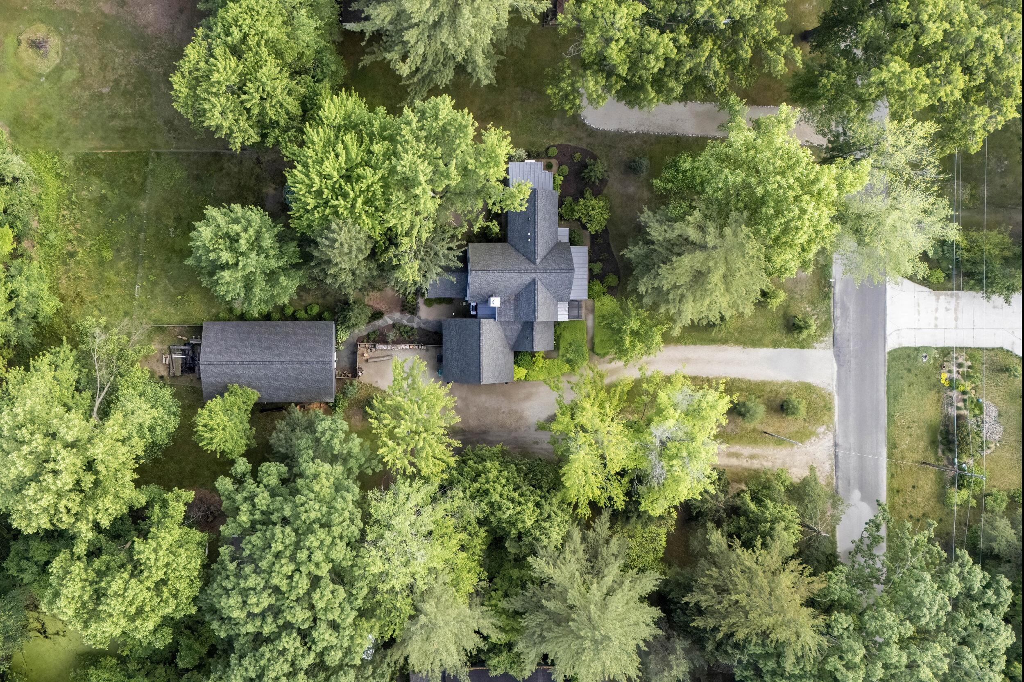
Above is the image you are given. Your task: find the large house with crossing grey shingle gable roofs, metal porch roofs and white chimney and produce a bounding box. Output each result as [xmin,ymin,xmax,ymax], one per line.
[428,162,588,385]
